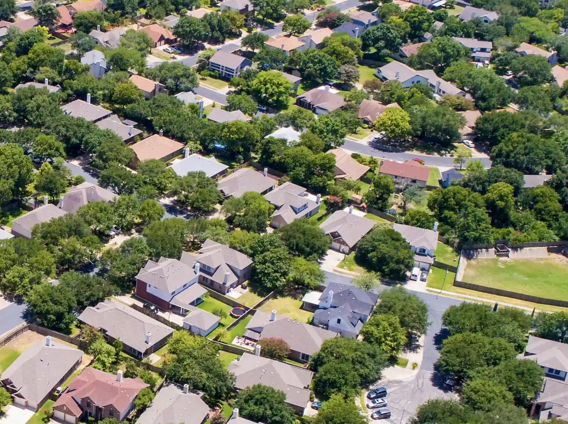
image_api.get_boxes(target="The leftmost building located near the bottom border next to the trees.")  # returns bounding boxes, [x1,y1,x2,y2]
[0,335,91,415]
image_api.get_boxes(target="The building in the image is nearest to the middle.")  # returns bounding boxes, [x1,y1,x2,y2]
[267,182,321,232]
